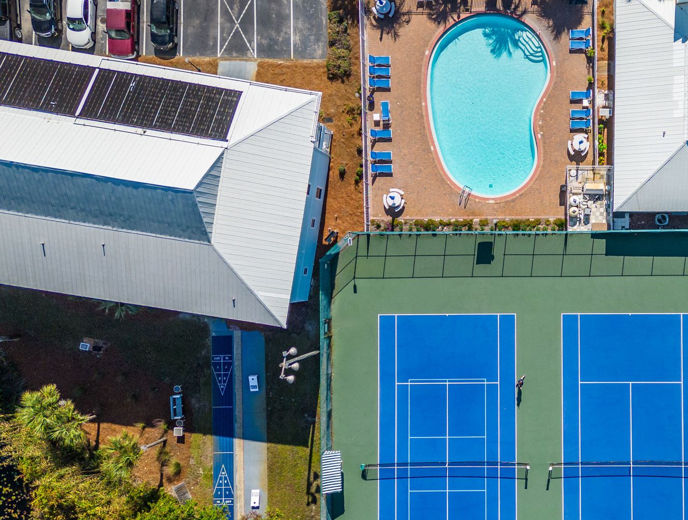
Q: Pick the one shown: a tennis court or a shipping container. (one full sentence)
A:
Looking from above, you can make out a tennis court.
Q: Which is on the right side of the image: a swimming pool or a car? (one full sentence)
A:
Visible on the right side of the image is a swimming pool.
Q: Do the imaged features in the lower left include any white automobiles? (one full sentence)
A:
No, I see no white automobile in the lower left.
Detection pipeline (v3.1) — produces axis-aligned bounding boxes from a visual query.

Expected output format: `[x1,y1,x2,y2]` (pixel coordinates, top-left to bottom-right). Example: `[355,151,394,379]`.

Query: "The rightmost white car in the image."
[64,0,98,48]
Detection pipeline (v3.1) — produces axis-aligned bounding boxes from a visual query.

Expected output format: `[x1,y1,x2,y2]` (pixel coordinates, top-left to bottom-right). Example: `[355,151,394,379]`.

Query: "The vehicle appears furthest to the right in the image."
[146,0,178,50]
